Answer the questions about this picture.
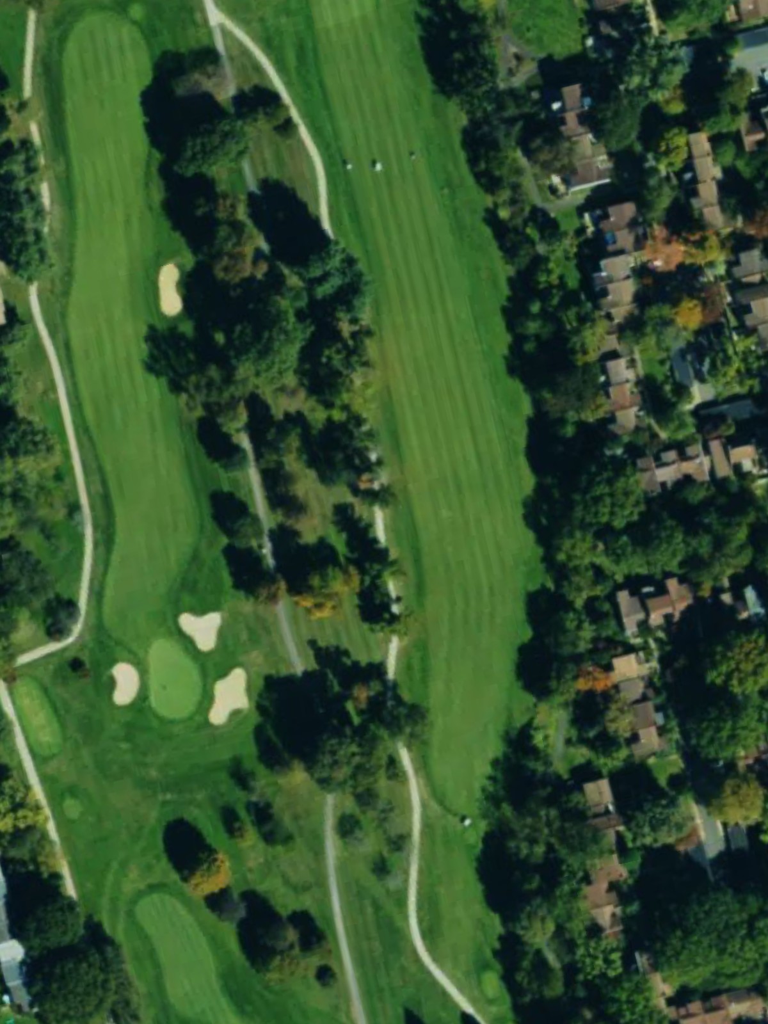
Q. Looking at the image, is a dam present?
No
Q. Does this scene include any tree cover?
Yes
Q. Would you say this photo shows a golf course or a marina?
golf course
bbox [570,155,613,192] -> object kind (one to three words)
house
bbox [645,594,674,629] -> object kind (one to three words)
house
